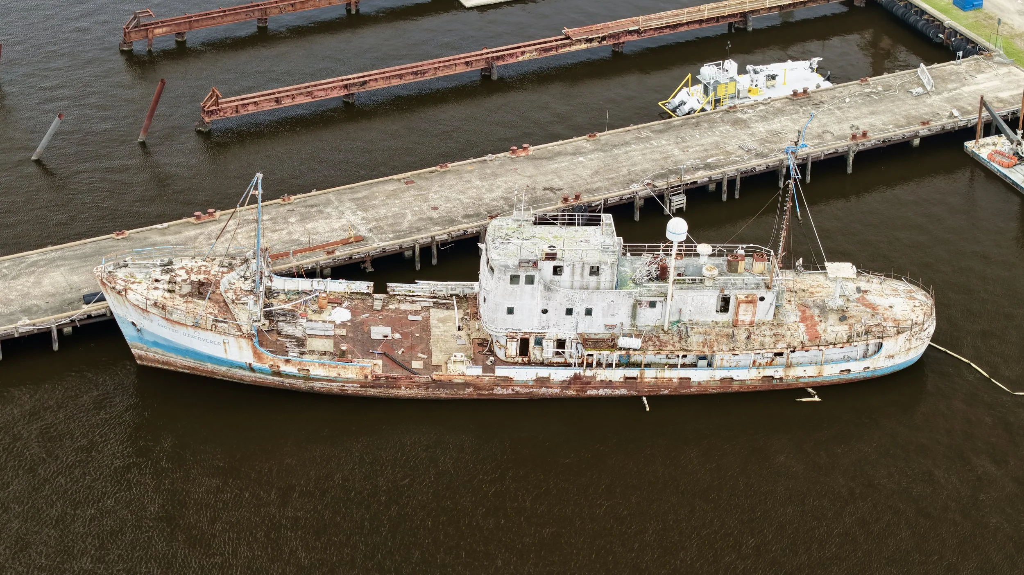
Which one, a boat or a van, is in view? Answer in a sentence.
Visible in the photo is a boat.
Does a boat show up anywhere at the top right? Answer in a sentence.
Yes, at the top right there is a boat.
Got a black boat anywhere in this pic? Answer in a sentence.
No, I can't see a single black boat in this photo.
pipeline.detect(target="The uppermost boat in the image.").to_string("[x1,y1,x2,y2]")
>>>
[658,36,833,118]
